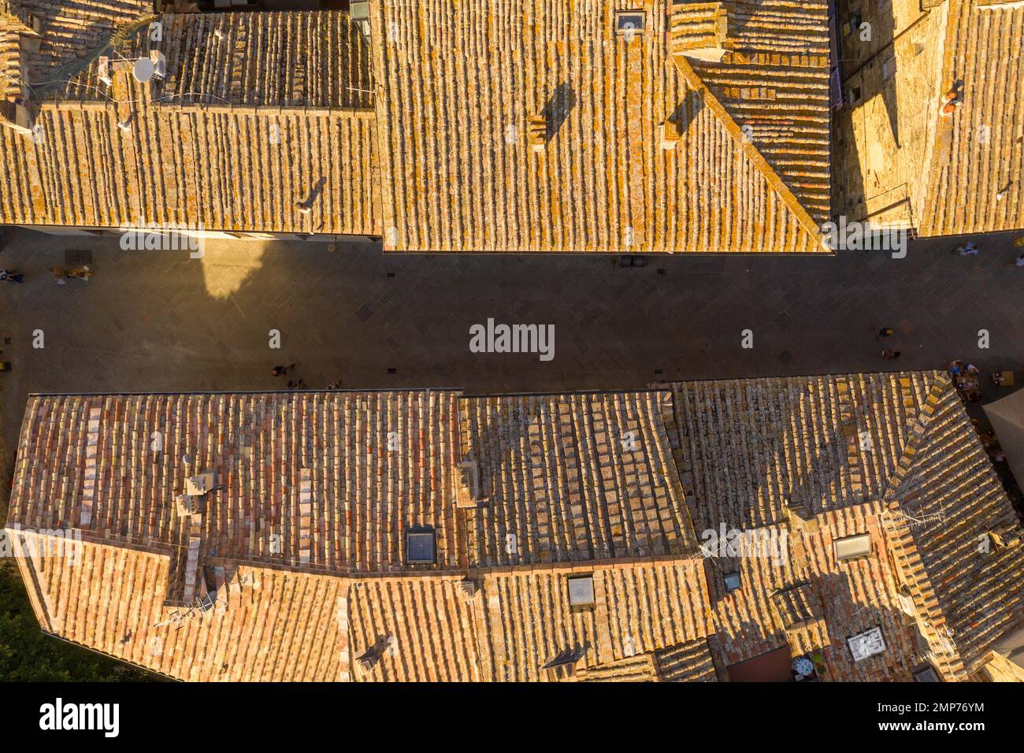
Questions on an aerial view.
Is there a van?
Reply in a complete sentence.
No, this view has no van in it.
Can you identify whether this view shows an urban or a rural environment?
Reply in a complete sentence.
From above, the setting appears urban.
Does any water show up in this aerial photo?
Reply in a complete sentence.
No, no water is visible.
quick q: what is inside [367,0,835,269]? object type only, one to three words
house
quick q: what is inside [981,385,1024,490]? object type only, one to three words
umbrella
